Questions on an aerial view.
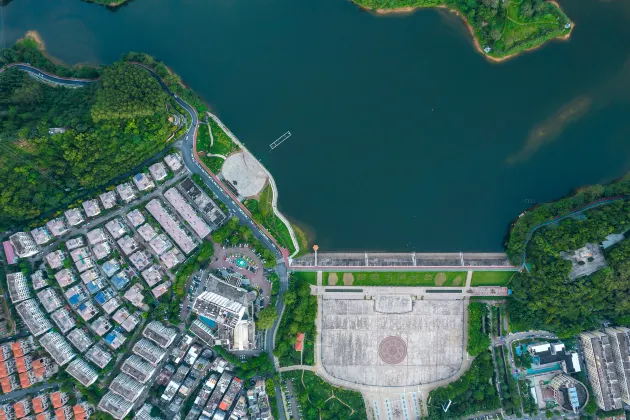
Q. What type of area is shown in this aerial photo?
residential area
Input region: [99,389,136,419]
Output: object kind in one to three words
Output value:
building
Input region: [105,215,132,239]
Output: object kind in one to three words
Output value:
house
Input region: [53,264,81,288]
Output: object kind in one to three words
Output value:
house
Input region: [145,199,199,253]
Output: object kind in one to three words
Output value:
building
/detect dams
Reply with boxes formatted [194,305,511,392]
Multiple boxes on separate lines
[289,250,519,287]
